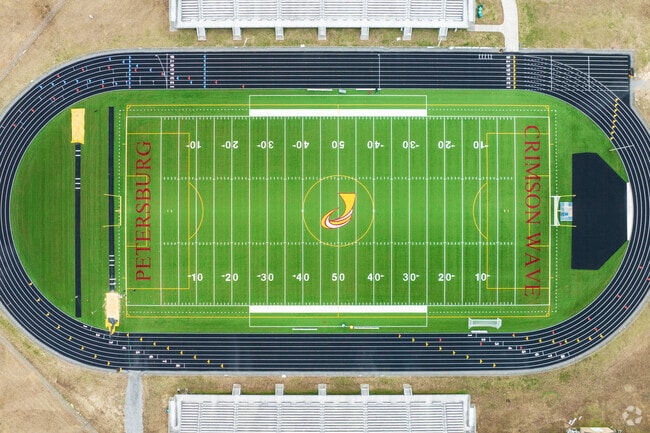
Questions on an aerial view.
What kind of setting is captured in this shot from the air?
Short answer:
sports ground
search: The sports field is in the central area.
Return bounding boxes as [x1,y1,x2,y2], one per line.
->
[119,95,557,326]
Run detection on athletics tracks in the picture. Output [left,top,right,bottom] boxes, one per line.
[0,52,650,370]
